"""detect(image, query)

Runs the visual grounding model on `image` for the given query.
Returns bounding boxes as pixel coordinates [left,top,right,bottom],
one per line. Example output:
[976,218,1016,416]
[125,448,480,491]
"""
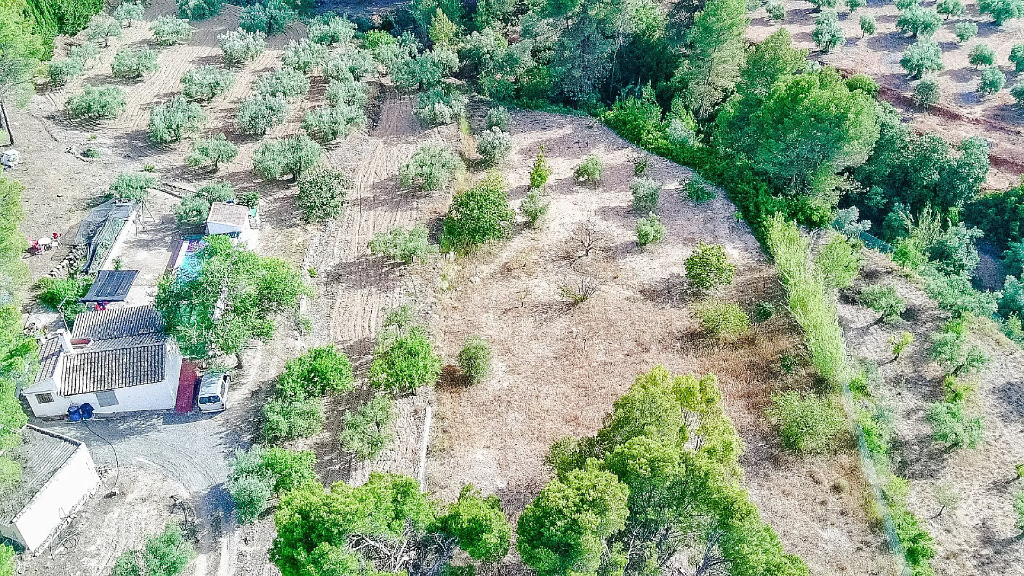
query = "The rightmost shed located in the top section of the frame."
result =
[206,196,258,238]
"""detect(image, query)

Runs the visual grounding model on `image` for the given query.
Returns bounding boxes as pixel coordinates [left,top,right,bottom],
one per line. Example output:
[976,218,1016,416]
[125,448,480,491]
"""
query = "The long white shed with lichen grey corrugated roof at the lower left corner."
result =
[0,425,100,565]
